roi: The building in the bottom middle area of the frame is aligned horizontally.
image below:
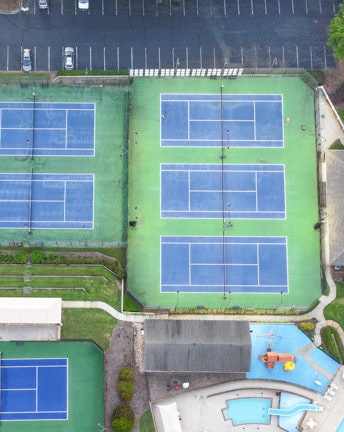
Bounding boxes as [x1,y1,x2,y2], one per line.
[144,319,251,373]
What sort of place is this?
sports ground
